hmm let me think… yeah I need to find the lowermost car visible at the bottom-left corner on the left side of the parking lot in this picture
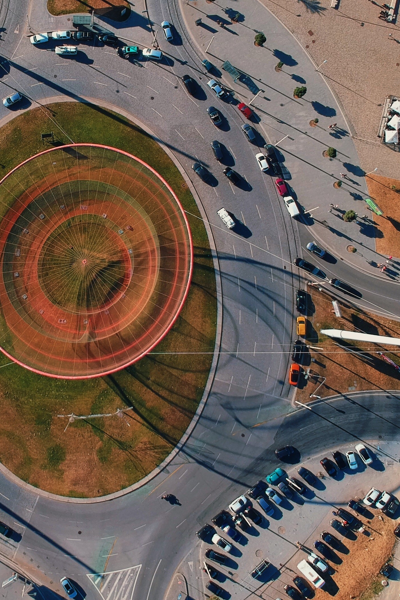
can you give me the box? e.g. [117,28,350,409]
[60,579,74,596]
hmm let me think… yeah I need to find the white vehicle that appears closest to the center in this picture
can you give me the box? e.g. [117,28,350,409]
[215,207,236,230]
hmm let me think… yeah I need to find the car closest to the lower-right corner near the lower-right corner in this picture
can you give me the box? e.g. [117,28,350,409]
[379,564,395,578]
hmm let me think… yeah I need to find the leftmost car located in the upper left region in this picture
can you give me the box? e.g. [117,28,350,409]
[4,92,21,108]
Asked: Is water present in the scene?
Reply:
No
